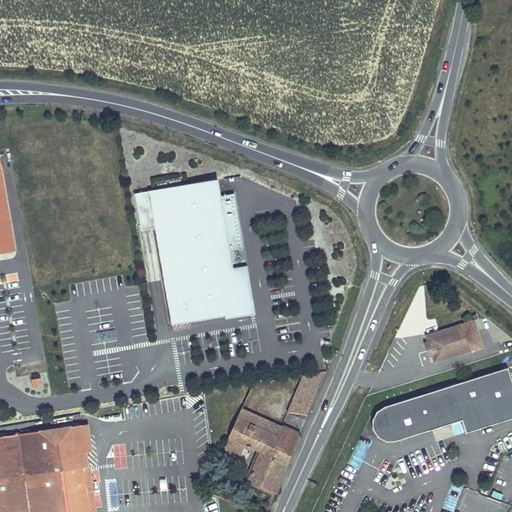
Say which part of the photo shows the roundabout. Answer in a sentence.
The roundabout is in the right part of the image.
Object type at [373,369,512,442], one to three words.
building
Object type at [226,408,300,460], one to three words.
house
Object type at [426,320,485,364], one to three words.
house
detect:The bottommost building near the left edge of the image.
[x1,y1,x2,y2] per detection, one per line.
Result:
[0,425,97,512]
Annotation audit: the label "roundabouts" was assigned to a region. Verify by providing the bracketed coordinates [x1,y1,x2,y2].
[334,114,480,311]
